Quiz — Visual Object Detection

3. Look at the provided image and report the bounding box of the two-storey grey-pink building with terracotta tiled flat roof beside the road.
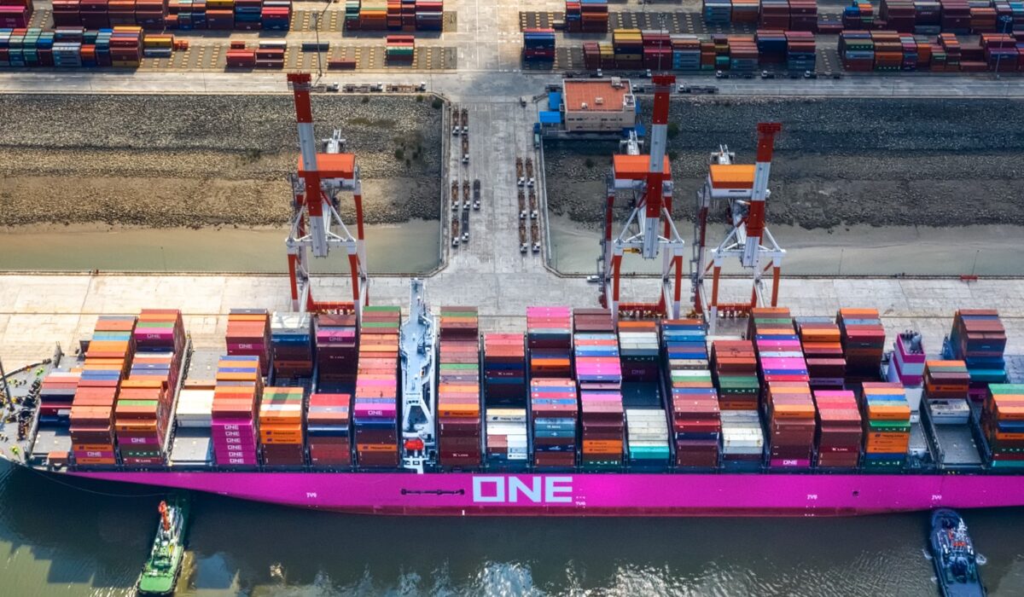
[563,72,636,130]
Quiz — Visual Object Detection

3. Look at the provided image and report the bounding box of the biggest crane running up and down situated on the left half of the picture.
[286,75,368,335]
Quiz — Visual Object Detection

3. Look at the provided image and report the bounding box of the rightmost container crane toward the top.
[685,121,785,336]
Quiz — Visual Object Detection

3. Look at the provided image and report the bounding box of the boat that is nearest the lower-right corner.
[924,508,987,597]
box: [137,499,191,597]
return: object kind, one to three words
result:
boat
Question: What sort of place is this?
port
